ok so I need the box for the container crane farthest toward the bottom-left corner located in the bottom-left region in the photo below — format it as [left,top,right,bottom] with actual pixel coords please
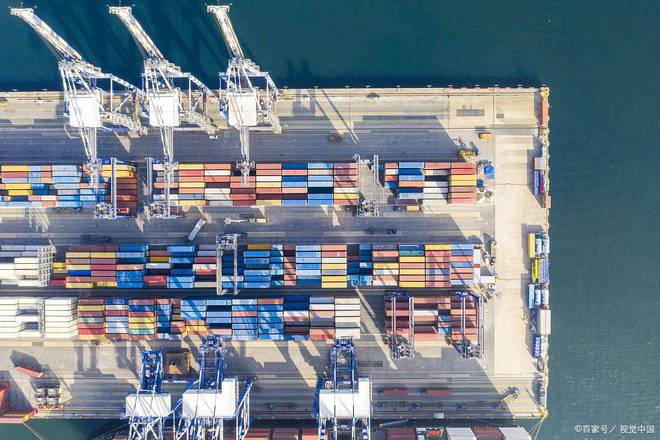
[124,349,198,440]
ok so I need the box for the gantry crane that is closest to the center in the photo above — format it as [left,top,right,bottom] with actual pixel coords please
[353,153,378,218]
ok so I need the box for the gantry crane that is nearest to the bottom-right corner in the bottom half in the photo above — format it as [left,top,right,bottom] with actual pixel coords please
[450,292,484,361]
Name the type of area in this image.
port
